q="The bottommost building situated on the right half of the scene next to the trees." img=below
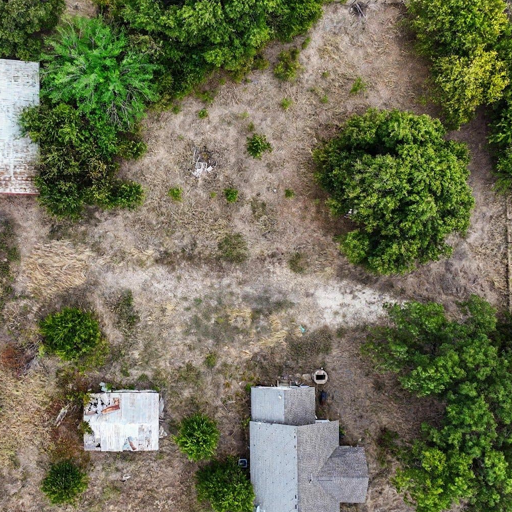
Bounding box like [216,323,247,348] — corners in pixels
[249,385,368,512]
